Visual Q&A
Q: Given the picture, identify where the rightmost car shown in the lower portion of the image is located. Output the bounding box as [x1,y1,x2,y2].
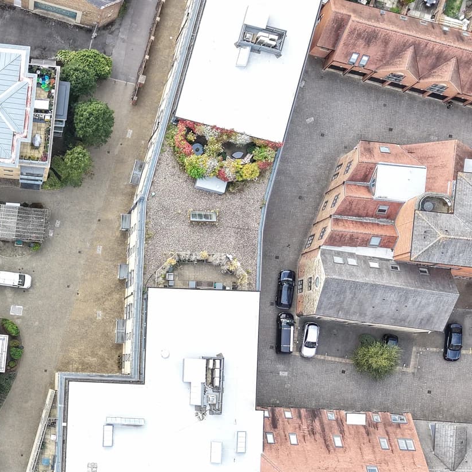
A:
[442,322,466,364]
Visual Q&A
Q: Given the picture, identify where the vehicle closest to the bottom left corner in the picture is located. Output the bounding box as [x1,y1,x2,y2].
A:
[0,270,33,289]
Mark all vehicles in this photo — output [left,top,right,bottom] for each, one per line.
[0,270,33,289]
[382,331,402,366]
[276,269,299,309]
[442,322,466,364]
[275,312,298,354]
[299,321,322,358]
